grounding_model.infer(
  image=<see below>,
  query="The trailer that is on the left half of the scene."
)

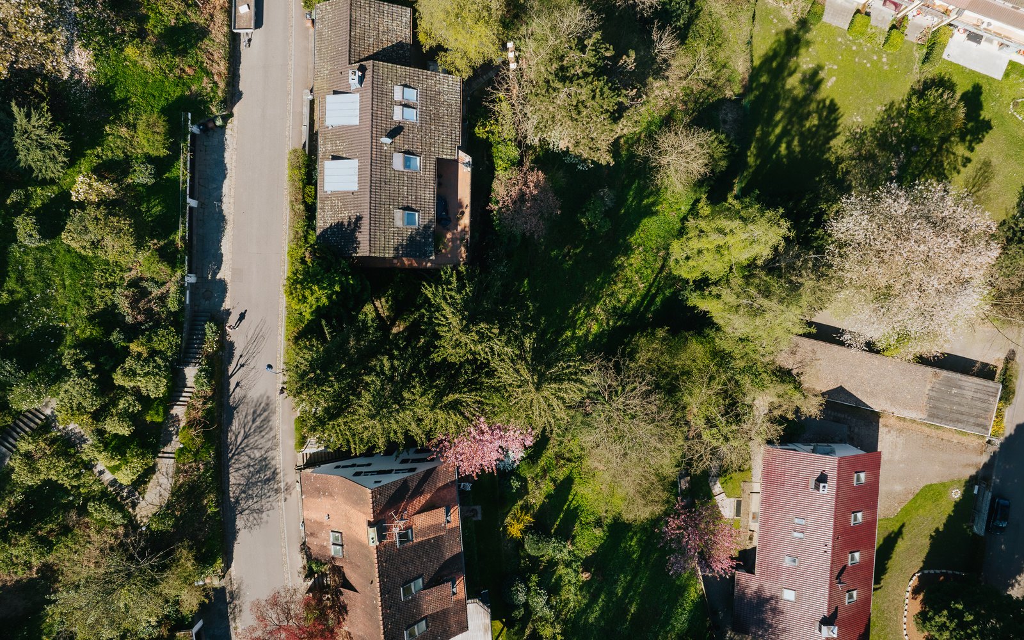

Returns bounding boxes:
[233,0,258,49]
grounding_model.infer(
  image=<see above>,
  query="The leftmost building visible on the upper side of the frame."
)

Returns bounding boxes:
[313,0,472,268]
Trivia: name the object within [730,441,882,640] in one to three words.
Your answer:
house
